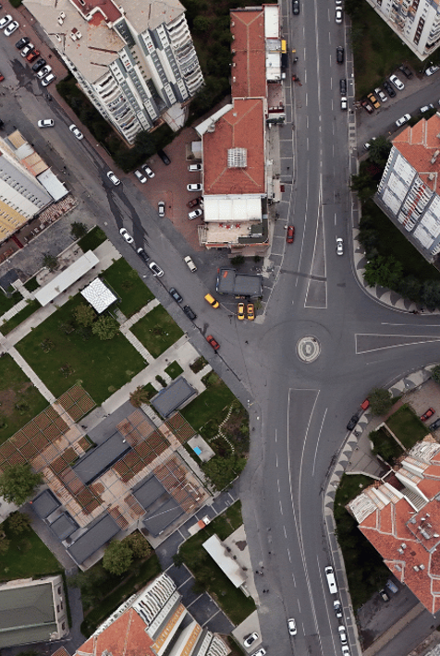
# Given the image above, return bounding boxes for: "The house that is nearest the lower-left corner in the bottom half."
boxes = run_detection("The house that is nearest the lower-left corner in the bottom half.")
[0,576,67,647]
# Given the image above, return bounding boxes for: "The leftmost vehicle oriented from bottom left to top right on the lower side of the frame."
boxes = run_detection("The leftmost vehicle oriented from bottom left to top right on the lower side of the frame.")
[185,514,211,537]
